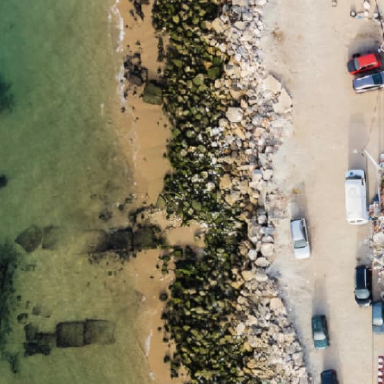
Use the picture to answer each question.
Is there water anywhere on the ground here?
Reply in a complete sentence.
Yes, there is water in the image.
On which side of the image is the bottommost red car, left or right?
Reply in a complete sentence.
The bottommost red car is on the right side of the image.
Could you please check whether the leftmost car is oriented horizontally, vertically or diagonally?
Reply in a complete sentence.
The leftmost car is laid out vertically.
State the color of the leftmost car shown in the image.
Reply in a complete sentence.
The color of the leftmost car is white.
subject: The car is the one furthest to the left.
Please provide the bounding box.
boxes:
[291,218,312,258]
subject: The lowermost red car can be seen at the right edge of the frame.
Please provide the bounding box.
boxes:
[347,54,384,74]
